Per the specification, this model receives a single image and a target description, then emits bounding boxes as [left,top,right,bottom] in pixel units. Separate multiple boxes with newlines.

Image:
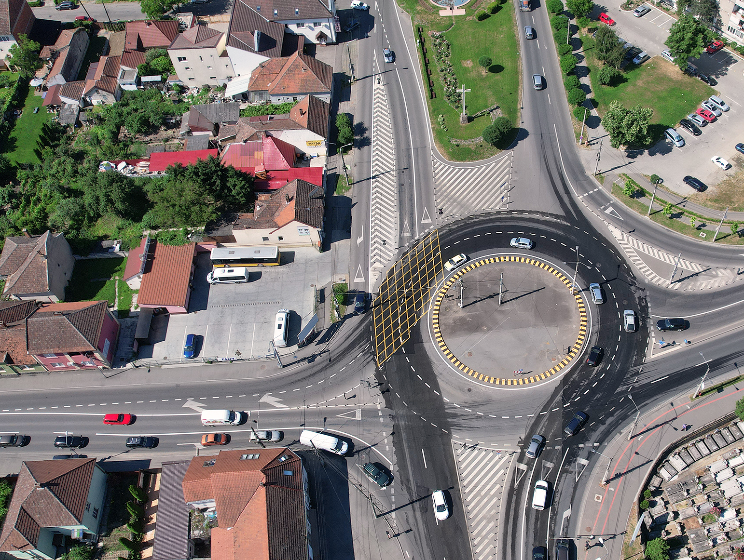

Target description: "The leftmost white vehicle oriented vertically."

[272,307,290,348]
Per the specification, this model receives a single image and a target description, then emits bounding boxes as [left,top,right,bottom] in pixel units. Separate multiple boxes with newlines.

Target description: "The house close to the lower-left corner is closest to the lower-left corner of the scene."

[0,459,107,558]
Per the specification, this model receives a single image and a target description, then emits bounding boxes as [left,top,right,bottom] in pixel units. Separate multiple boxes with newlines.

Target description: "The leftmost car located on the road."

[0,434,27,449]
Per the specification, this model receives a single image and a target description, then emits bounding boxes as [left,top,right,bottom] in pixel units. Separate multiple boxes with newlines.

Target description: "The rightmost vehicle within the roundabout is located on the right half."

[624,309,637,334]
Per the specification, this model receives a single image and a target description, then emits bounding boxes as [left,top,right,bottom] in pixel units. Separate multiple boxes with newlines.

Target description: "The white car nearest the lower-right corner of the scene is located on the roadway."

[531,478,548,512]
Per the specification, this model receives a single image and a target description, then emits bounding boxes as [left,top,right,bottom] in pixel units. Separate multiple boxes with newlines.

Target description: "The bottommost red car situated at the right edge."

[695,106,716,123]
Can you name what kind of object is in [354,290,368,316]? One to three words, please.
car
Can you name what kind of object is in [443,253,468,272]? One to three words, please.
car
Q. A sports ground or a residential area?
residential area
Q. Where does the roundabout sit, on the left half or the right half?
right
